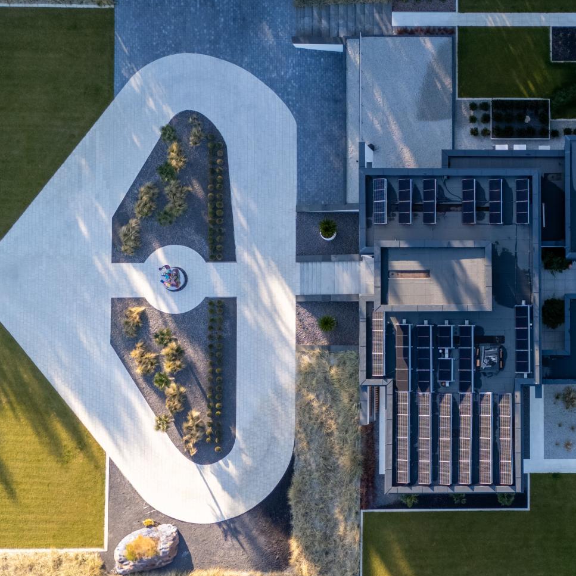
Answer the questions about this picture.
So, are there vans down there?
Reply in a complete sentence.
No, the picture doesn't show any van.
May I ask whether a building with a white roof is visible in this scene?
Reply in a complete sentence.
No, there's no building with a white roof here.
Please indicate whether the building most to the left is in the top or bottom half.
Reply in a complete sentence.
You can find the building most to the left in the top half.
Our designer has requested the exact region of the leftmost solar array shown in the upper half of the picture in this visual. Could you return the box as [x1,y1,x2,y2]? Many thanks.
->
[373,177,390,225]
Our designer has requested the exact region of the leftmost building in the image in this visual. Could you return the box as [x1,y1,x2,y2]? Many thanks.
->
[345,36,454,205]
